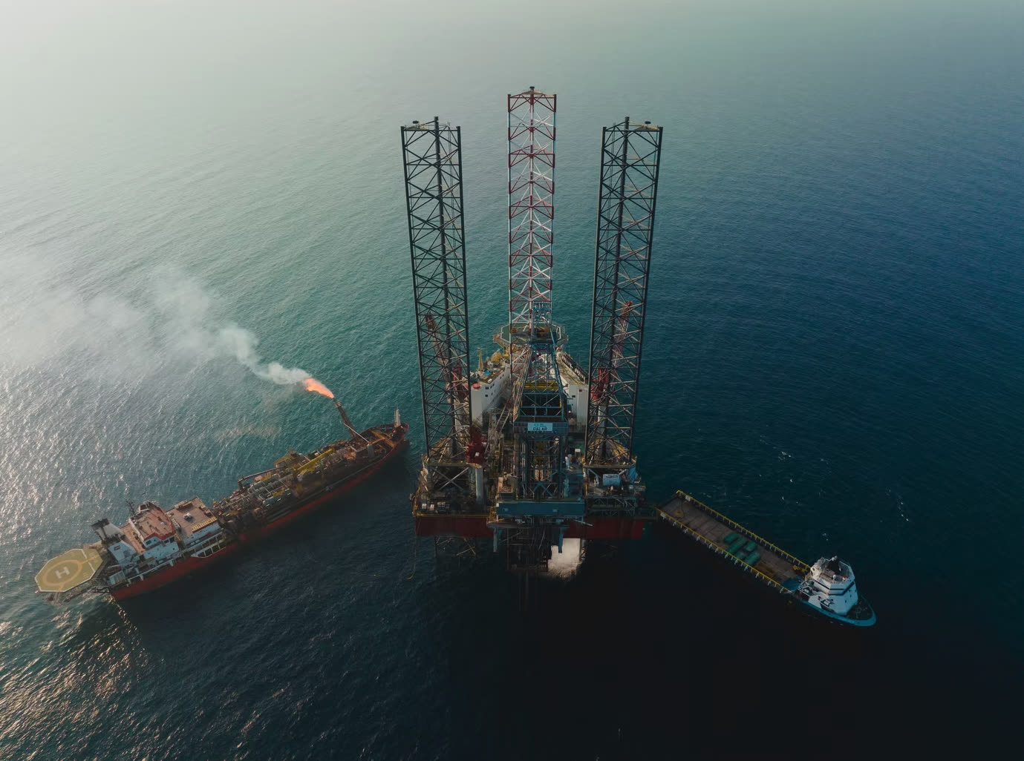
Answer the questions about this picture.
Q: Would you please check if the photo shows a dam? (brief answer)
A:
No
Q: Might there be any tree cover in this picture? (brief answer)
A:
No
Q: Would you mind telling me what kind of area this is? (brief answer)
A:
port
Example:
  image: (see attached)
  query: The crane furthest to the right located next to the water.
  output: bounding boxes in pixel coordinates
[592,295,632,437]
